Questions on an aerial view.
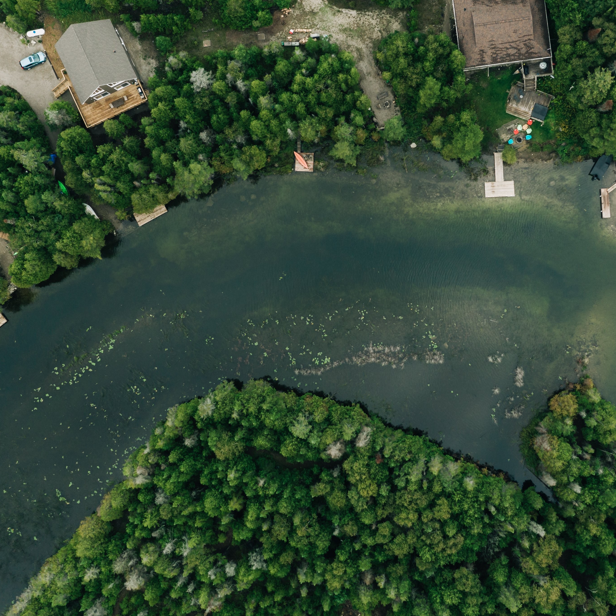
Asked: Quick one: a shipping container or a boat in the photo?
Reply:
boat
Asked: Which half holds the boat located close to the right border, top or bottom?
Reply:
top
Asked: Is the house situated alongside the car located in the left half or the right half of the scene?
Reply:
left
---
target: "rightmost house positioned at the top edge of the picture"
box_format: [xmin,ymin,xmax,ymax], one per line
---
[453,0,555,123]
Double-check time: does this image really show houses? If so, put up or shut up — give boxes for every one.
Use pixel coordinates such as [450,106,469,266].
[453,0,555,123]
[49,19,155,128]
